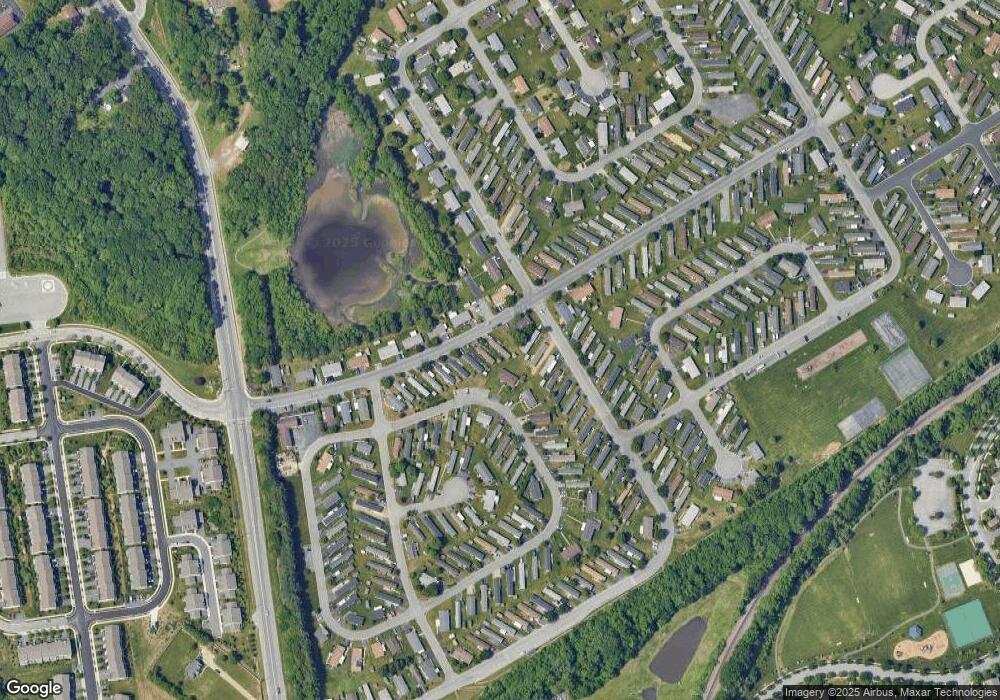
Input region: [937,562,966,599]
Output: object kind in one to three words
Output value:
basketball court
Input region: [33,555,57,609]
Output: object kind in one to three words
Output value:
house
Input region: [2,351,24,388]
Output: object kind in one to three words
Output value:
house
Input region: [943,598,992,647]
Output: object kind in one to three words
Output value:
tennis court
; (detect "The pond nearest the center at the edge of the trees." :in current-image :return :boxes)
[289,166,408,327]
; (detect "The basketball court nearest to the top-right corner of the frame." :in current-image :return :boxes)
[871,312,908,353]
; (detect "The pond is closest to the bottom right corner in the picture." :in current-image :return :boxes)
[642,617,708,700]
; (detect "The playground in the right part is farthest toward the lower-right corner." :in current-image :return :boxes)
[892,630,948,658]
